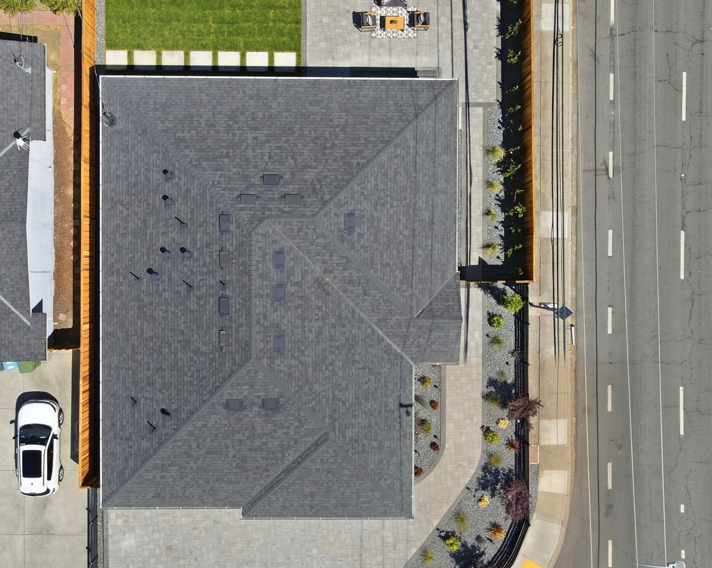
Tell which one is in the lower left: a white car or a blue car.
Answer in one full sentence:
The one visible in the lower left is a white car.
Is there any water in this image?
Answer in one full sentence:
No, no water is visible.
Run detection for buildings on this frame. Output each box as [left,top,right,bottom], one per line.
[98,74,464,521]
[0,37,66,362]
